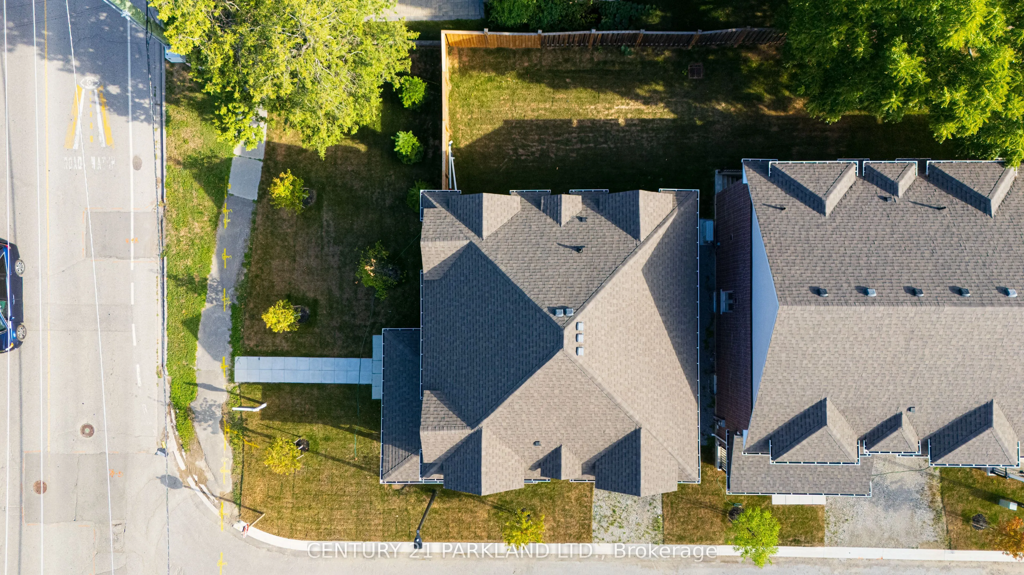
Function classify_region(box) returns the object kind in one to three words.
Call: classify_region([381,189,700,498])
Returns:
house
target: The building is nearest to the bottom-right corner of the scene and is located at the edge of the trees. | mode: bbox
[705,159,1024,495]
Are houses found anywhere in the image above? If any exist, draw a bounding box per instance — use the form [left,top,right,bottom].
[705,159,1024,495]
[381,189,700,498]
